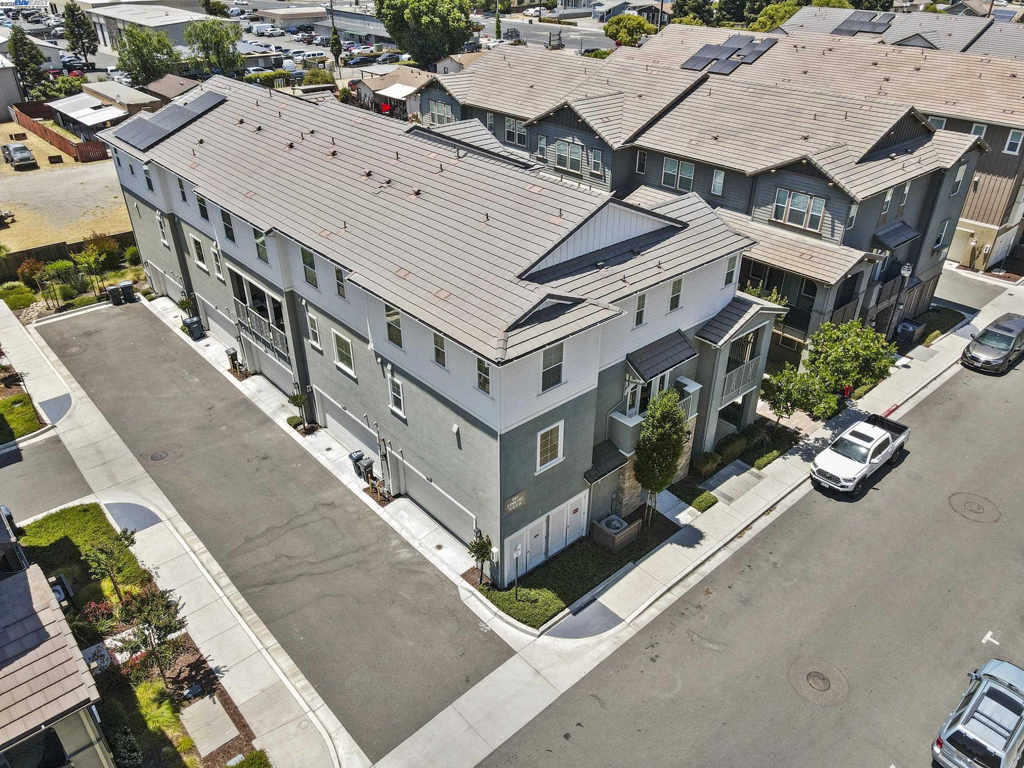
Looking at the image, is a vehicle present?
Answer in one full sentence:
Yes, this view includes a vehicle.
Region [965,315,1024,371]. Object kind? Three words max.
car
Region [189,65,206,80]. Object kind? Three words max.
car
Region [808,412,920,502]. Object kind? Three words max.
truck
